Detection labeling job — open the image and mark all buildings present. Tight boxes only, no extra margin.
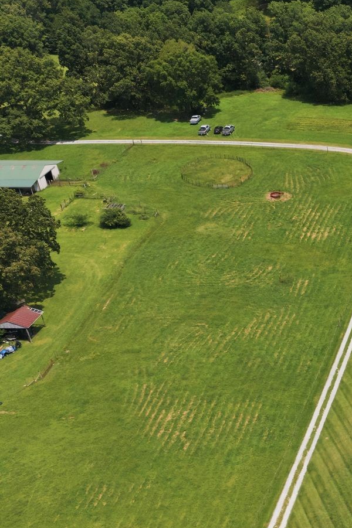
[0,307,47,343]
[0,160,65,195]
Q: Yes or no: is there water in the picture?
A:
No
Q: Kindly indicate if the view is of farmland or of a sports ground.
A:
farmland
